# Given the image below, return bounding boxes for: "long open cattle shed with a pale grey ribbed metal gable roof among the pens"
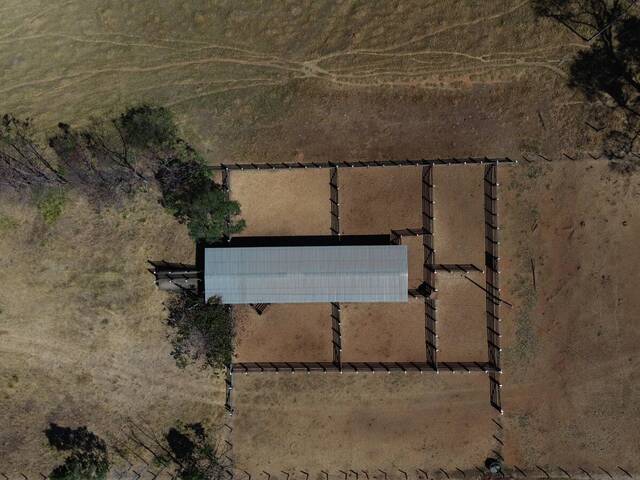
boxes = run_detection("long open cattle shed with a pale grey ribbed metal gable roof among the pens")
[202,245,410,304]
